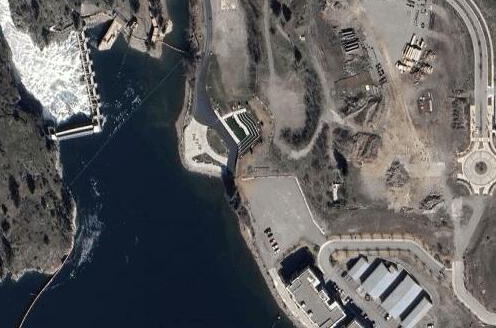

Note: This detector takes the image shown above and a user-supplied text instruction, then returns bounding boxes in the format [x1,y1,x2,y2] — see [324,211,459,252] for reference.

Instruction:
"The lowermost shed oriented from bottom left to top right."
[401,298,433,328]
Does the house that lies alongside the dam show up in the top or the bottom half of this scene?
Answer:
top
